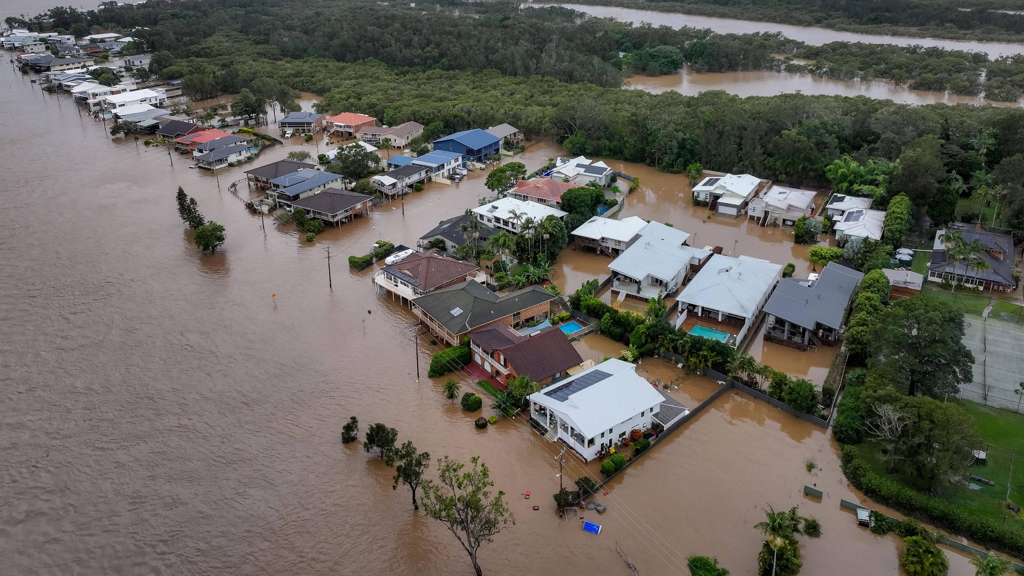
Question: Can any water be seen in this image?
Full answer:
Yes, water shows up in the scene.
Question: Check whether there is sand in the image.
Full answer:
No, the picture contains no sand.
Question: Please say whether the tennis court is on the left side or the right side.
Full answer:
It is on the right.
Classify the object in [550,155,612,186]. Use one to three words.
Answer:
house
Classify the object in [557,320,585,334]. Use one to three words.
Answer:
swimming pool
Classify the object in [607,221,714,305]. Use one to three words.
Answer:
house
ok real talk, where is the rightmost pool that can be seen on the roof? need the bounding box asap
[688,326,730,343]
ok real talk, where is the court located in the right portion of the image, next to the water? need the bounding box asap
[849,294,1024,424]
